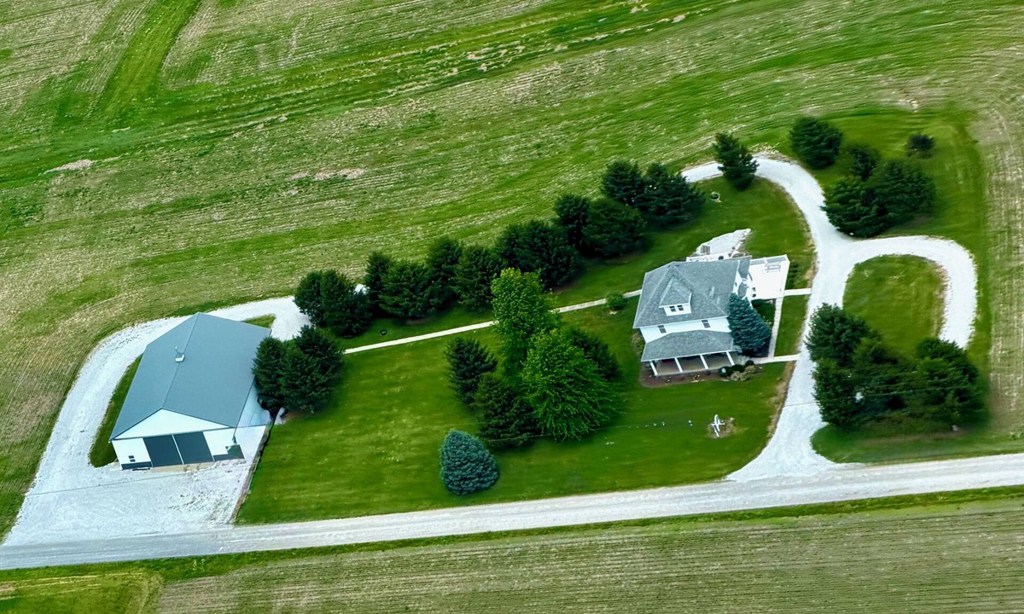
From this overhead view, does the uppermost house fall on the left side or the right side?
right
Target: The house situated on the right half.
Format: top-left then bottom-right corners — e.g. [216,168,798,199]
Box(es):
[633,250,791,382]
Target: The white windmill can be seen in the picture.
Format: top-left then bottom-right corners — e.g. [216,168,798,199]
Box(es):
[709,414,723,435]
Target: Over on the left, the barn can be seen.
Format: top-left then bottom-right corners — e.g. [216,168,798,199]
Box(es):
[107,310,275,469]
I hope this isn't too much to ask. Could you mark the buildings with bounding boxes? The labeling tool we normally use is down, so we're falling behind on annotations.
[633,250,791,382]
[107,310,275,469]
